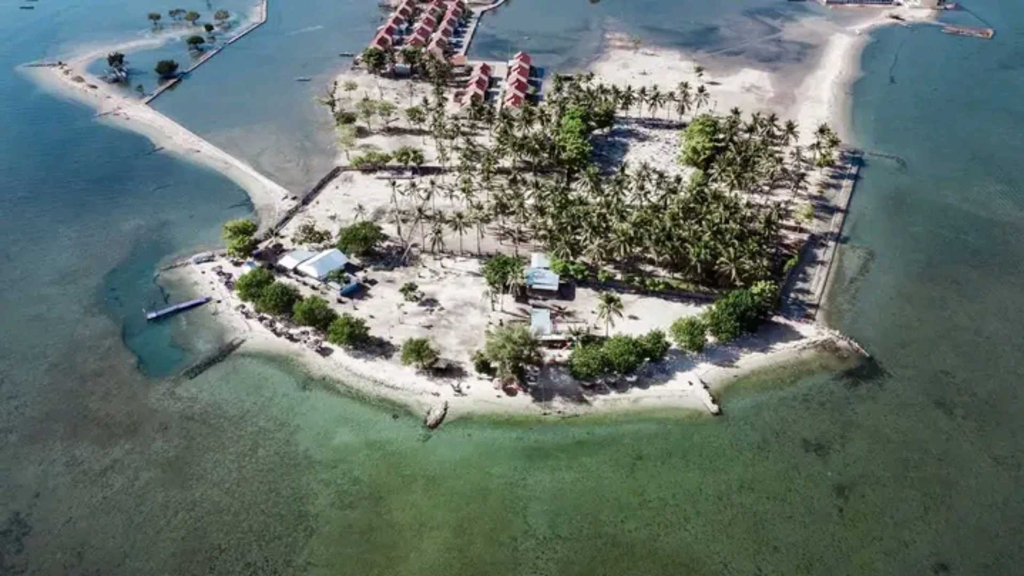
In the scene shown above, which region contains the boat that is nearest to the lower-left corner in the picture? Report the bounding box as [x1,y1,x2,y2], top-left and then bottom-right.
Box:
[144,295,211,318]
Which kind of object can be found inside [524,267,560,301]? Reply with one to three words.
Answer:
house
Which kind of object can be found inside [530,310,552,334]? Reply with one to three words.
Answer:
shed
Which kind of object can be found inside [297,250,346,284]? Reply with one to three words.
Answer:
shed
